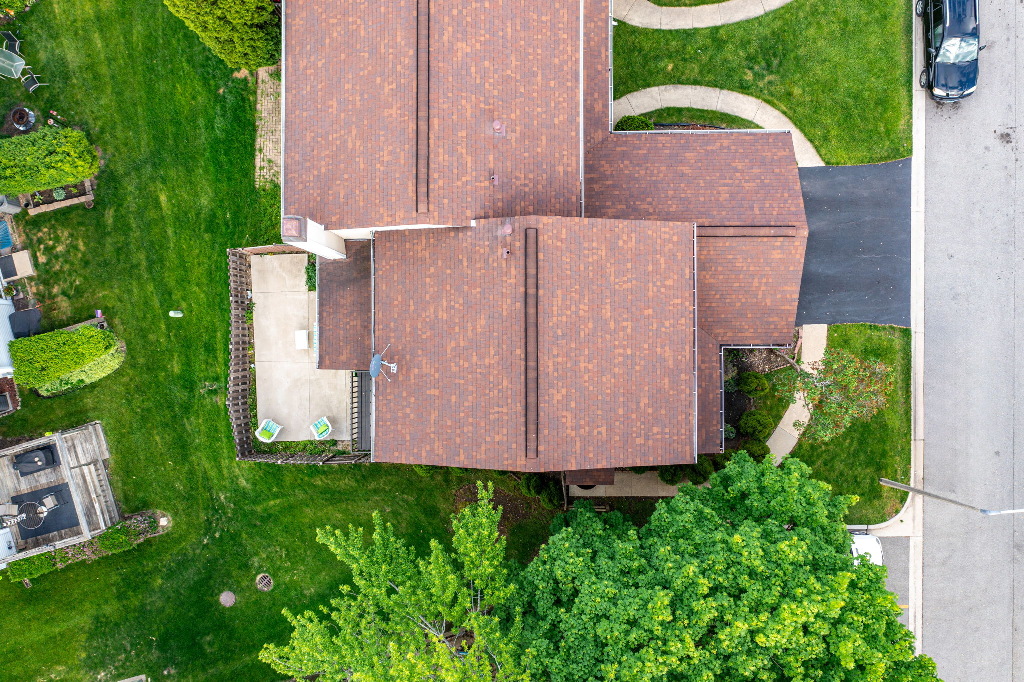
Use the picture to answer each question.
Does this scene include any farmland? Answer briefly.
No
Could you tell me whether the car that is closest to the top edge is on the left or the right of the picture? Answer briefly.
right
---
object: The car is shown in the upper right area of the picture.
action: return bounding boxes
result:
[910,0,988,107]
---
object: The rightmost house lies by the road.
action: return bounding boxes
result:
[281,0,808,485]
